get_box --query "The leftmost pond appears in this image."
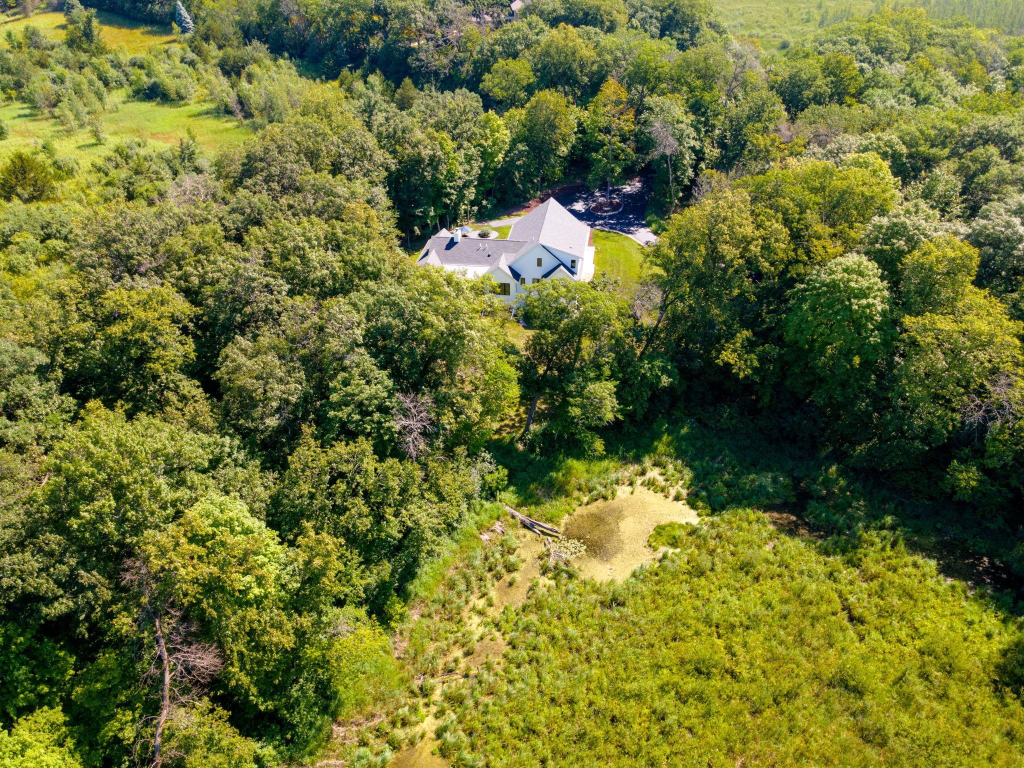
[558,467,698,581]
